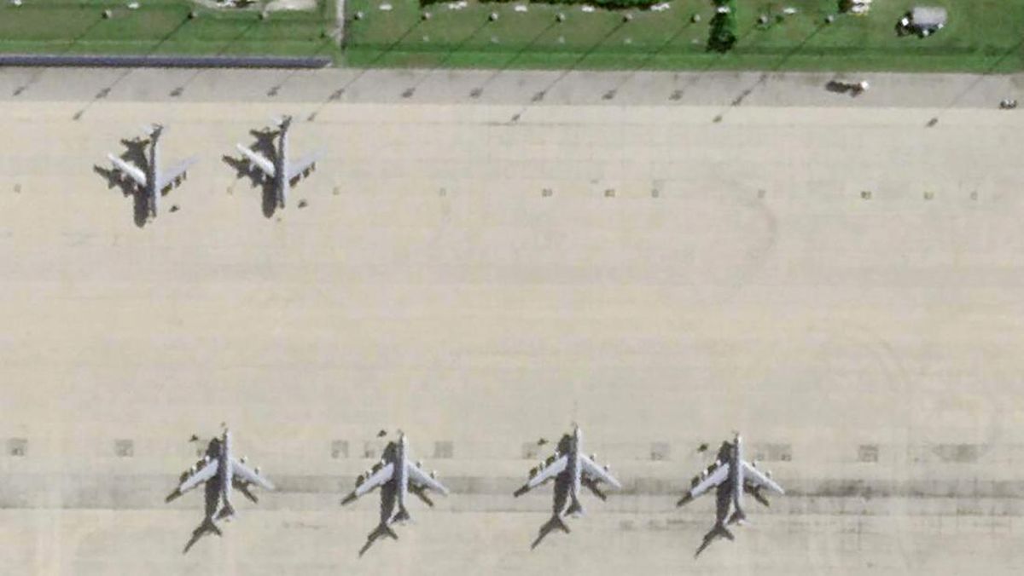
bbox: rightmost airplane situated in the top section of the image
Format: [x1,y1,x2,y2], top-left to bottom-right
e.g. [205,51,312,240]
[237,116,330,207]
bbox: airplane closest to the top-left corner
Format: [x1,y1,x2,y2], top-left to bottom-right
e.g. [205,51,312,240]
[108,125,201,217]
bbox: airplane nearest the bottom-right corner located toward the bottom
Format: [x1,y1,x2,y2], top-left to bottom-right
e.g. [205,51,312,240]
[693,435,786,524]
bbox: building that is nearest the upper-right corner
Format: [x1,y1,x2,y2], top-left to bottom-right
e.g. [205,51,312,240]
[910,7,946,25]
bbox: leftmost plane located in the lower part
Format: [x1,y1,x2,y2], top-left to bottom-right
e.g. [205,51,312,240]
[181,431,274,520]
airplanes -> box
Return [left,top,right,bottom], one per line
[181,431,274,520]
[693,435,786,524]
[108,125,201,217]
[531,427,624,519]
[357,435,450,524]
[237,116,330,207]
